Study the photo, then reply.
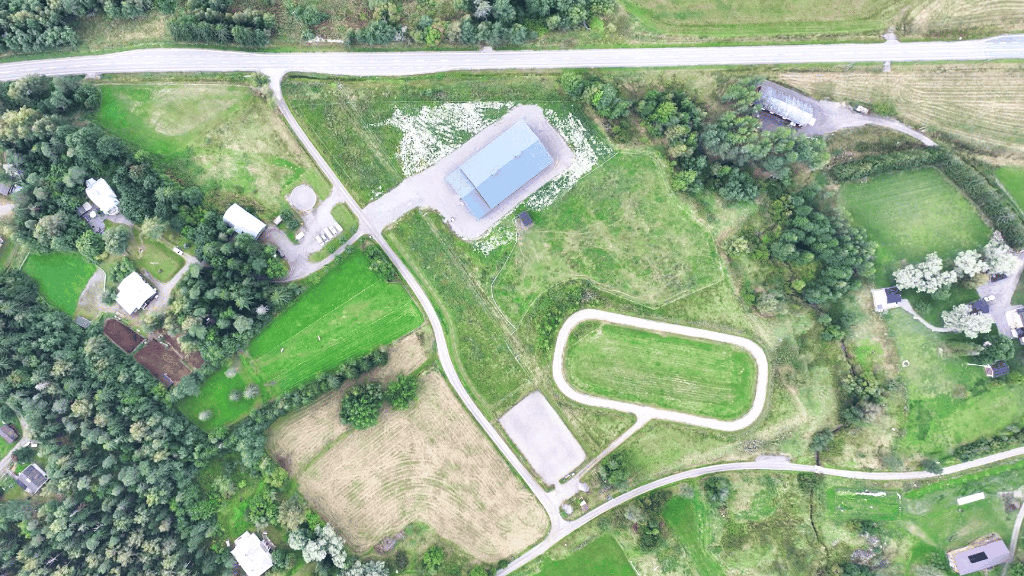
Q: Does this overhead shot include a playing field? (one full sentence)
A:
Yes, there's a playing field here.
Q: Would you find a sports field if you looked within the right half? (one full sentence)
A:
Yes, a sports field shows up within the right half.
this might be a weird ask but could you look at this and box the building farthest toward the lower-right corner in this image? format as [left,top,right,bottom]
[947,533,1008,576]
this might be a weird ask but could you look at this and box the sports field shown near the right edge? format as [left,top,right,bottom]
[840,167,993,299]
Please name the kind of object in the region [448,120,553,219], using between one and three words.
building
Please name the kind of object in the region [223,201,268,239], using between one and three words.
building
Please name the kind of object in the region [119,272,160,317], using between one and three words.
house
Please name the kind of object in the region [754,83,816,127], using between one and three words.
barn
